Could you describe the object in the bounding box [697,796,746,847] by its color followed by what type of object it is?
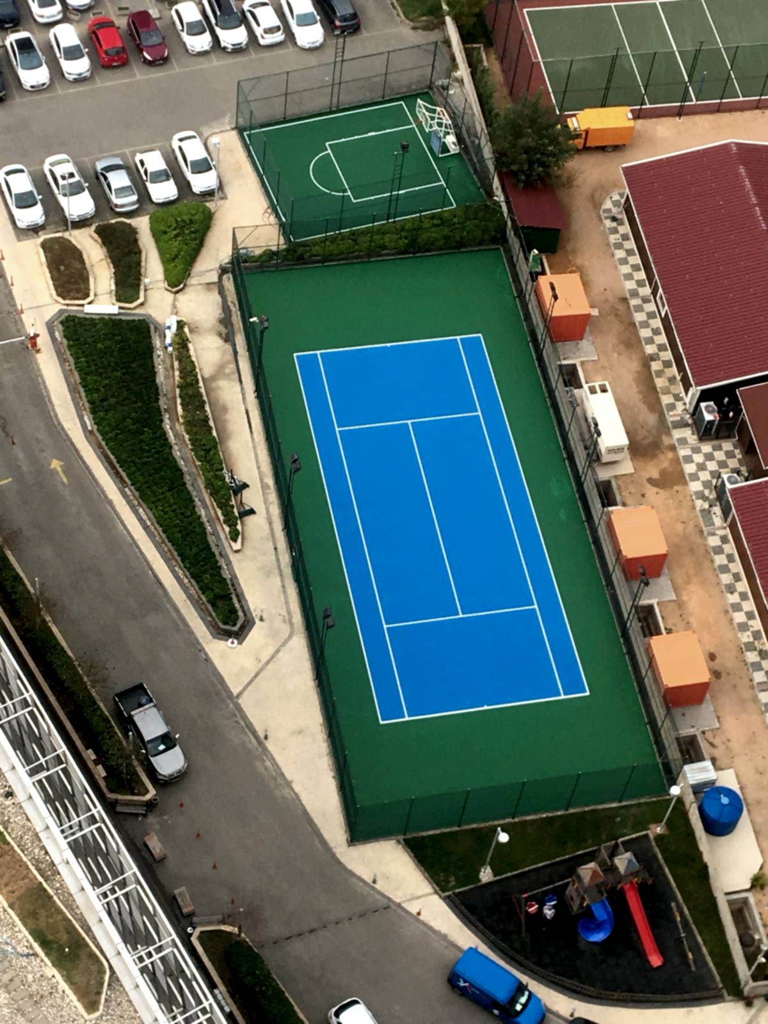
blue water tank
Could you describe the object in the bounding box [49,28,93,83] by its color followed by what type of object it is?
white car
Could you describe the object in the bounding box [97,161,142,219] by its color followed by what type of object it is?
gray car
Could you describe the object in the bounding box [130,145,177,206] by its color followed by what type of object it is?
white car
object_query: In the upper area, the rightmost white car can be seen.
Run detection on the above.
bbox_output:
[277,0,324,51]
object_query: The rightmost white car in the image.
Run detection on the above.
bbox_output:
[323,991,378,1024]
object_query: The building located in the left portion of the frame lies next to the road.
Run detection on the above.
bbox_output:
[0,633,230,1024]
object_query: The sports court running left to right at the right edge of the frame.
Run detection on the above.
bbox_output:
[496,0,768,128]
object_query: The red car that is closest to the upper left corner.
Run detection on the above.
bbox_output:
[88,21,131,71]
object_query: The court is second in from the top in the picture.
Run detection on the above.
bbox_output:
[238,90,492,241]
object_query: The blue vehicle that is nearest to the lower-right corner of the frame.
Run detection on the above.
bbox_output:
[448,953,547,1024]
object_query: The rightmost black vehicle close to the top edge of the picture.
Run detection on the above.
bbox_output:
[315,0,361,38]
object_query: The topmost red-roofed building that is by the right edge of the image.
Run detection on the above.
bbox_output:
[621,144,768,414]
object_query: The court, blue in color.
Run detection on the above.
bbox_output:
[247,249,658,811]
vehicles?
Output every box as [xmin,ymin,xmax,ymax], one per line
[242,3,288,52]
[323,991,378,1024]
[49,28,93,83]
[0,70,9,101]
[315,0,361,38]
[564,1016,592,1024]
[7,36,52,93]
[1,167,47,229]
[170,2,216,56]
[88,21,131,71]
[30,0,62,19]
[97,161,142,219]
[127,13,171,67]
[45,159,95,223]
[169,135,216,196]
[277,0,324,51]
[550,106,635,162]
[63,0,93,12]
[448,953,547,1024]
[202,0,249,54]
[130,145,177,206]
[110,683,186,789]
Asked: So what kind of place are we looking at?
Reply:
sports ground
